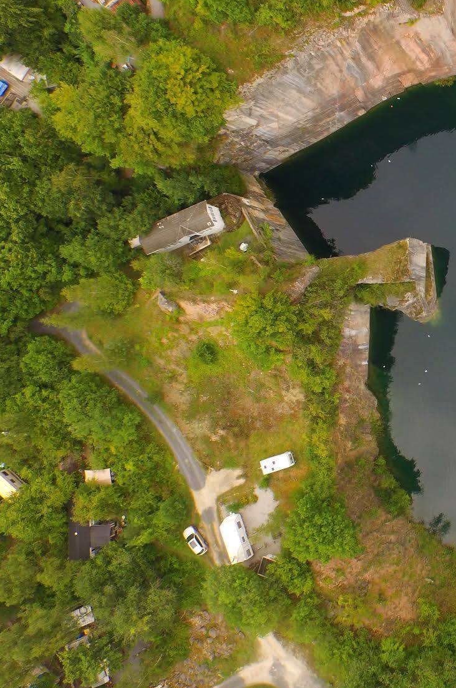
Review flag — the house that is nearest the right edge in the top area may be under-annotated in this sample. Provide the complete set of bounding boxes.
[129,200,224,255]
